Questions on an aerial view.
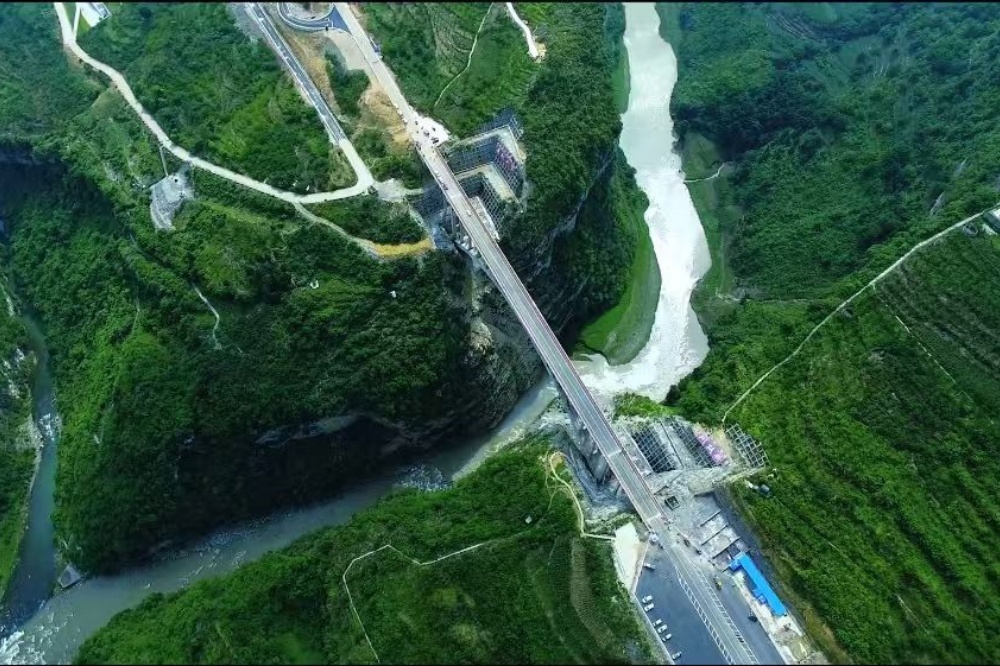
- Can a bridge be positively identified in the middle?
Yes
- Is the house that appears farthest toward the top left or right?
left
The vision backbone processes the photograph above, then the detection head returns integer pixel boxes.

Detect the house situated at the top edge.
[83,0,115,29]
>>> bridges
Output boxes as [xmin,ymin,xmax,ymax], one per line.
[419,146,667,521]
